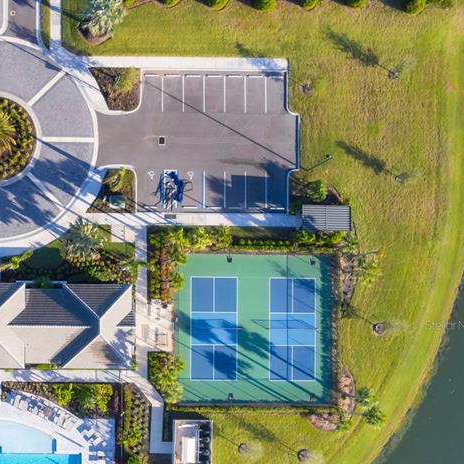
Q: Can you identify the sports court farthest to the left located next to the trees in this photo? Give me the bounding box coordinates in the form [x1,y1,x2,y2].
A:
[177,254,254,405]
